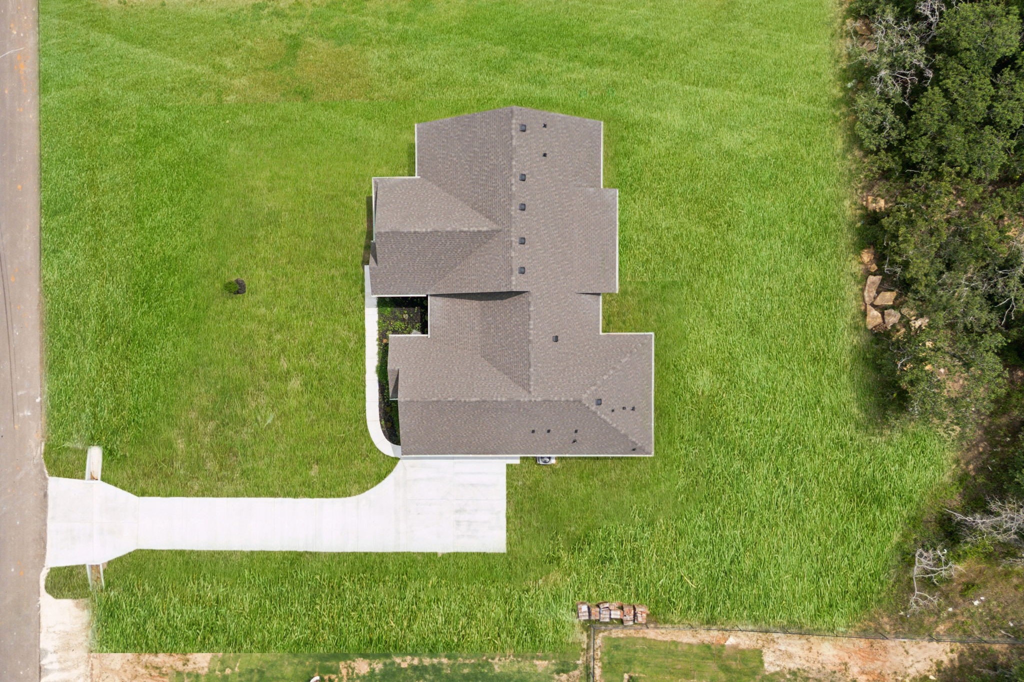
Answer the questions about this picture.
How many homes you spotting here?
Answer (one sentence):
Only 1 home is visible.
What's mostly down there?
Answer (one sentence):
What you mostly see from above here is grass.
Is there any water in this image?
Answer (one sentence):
No, the scene doesn't show any water.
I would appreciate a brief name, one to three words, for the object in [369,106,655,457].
house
